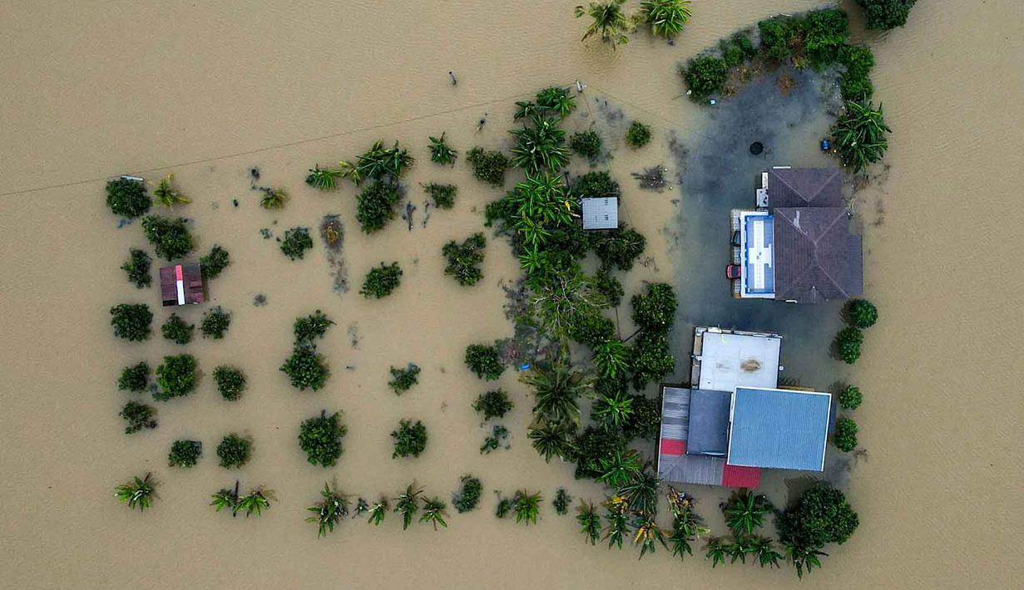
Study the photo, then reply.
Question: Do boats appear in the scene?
No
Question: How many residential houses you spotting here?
two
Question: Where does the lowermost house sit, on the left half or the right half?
right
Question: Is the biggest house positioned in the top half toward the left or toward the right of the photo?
right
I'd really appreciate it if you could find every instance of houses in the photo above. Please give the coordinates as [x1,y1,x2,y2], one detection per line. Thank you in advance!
[731,166,864,304]
[653,325,837,489]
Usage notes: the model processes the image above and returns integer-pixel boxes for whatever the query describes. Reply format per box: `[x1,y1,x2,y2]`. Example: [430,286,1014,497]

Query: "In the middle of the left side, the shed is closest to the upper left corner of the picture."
[160,263,205,306]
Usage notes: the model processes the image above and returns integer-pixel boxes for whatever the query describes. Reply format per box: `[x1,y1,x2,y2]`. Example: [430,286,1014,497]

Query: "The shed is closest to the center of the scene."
[582,196,618,230]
